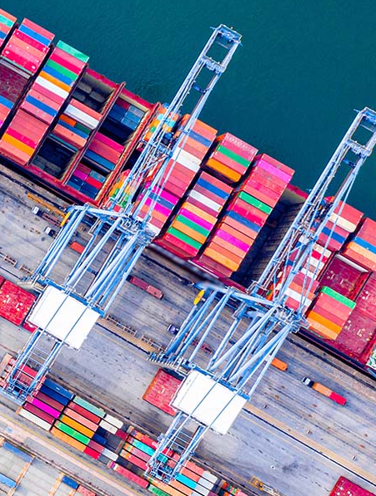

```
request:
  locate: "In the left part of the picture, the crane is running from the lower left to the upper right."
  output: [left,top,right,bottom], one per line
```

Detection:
[0,21,245,416]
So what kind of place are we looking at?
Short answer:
port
